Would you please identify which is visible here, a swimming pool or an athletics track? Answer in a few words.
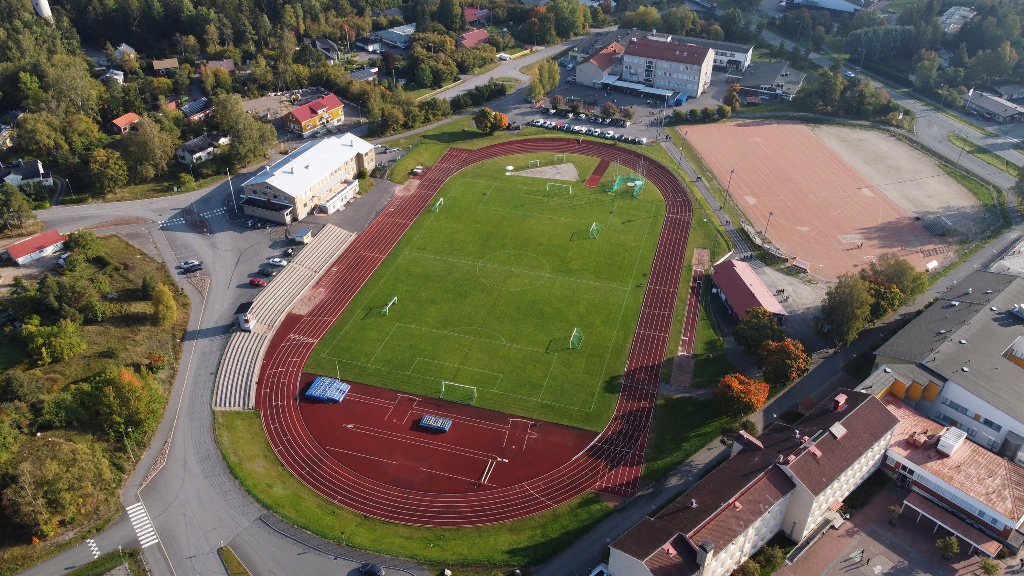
athletics track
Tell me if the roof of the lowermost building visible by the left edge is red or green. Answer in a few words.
red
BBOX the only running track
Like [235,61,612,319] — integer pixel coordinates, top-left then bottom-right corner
[261,144,693,528]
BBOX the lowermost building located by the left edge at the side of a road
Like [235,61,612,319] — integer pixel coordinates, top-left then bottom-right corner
[5,231,66,266]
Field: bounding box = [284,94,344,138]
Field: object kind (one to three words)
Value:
house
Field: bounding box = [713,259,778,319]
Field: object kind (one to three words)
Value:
building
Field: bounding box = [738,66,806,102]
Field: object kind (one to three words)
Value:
building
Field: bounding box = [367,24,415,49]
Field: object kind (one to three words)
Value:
house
